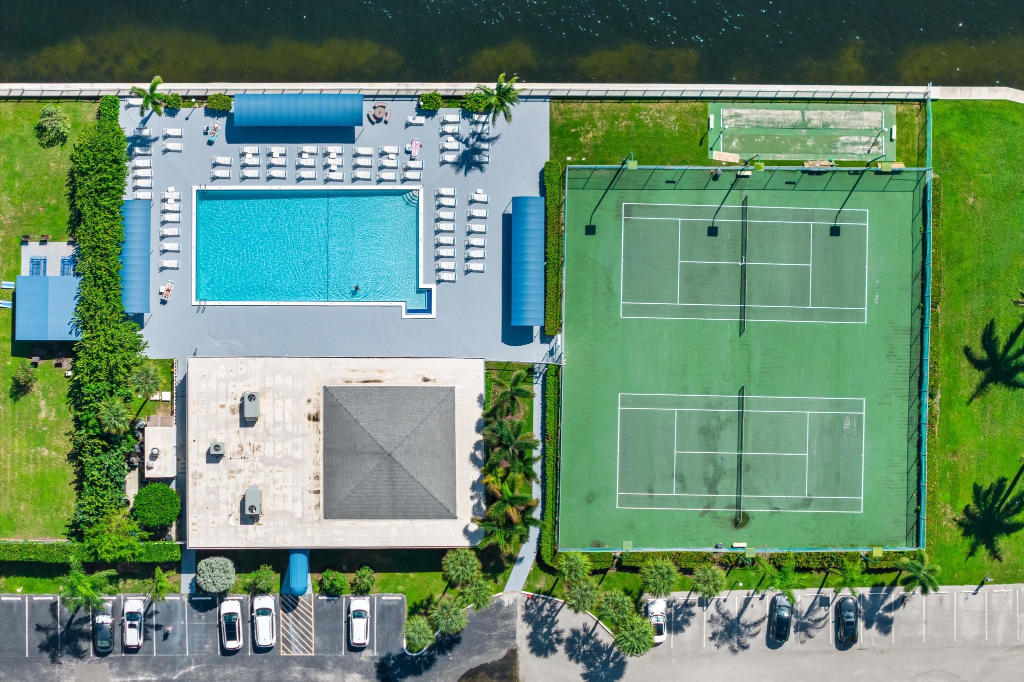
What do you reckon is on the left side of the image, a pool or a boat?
pool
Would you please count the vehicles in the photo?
eight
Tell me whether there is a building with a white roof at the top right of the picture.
No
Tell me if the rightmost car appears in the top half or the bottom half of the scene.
bottom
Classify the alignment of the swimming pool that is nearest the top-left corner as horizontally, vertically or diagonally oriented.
horizontally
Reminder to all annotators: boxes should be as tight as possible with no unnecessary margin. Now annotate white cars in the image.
[218,599,243,650]
[121,597,145,649]
[646,598,669,643]
[347,596,371,647]
[252,594,276,647]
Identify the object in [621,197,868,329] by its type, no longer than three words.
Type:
tennis court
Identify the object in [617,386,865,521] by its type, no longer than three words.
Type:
tennis court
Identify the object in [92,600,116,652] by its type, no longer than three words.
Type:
car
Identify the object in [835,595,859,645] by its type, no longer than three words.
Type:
car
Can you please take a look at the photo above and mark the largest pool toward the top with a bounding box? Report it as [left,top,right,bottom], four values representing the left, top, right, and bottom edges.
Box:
[191,182,436,318]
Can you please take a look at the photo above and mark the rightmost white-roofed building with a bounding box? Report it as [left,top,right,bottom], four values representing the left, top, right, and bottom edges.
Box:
[186,356,486,549]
